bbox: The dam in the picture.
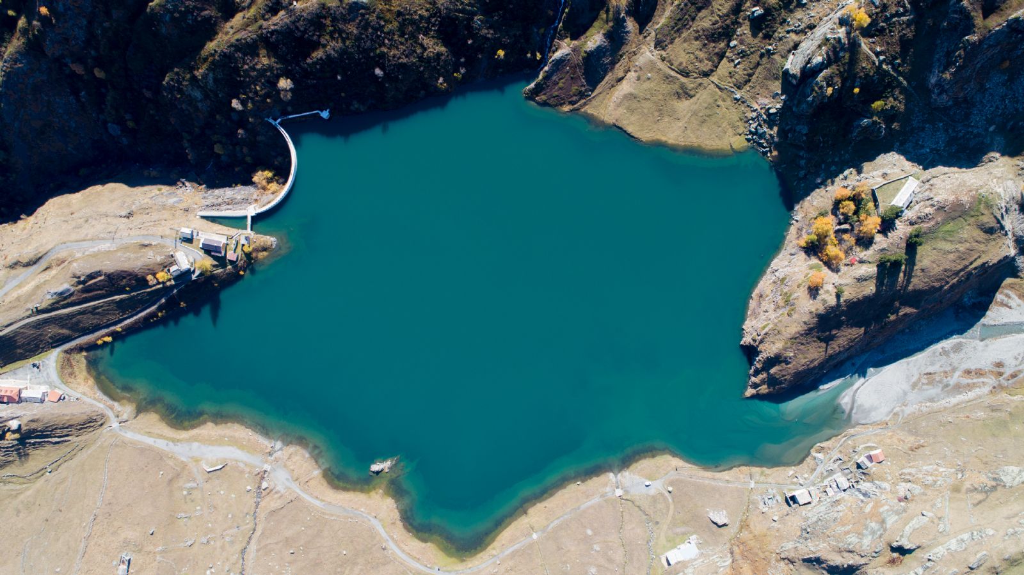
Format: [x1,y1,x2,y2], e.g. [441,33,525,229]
[254,120,300,216]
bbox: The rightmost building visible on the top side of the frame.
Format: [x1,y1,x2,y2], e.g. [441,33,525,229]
[887,173,917,209]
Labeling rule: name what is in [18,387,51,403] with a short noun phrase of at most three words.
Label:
house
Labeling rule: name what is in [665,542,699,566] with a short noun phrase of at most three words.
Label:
building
